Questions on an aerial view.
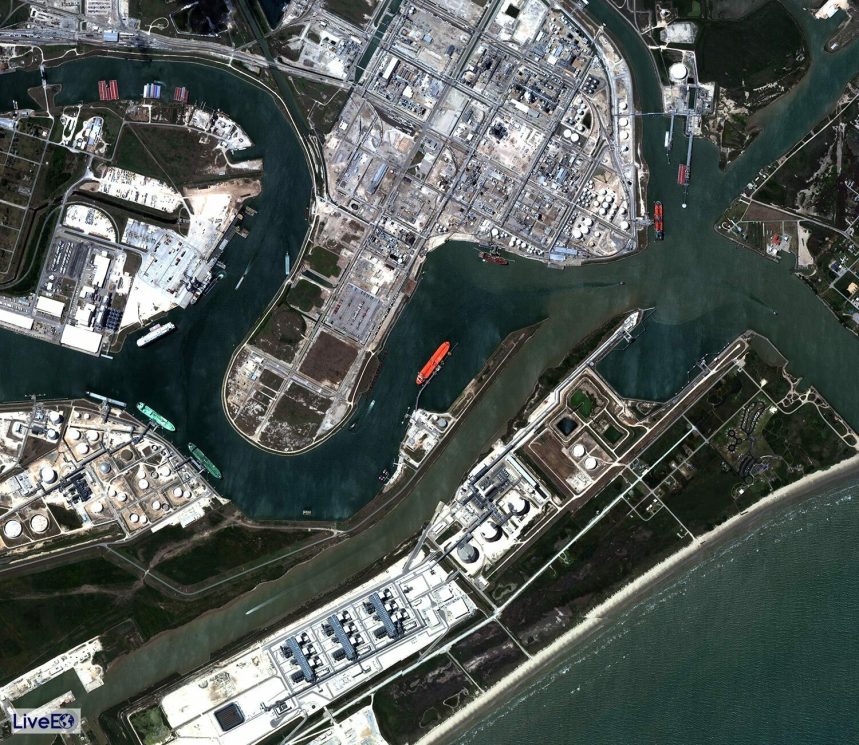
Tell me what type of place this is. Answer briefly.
port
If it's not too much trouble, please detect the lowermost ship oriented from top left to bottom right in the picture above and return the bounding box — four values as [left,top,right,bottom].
[186,442,221,479]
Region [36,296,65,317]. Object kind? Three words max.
building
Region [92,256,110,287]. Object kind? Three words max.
building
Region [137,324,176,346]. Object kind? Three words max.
ship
